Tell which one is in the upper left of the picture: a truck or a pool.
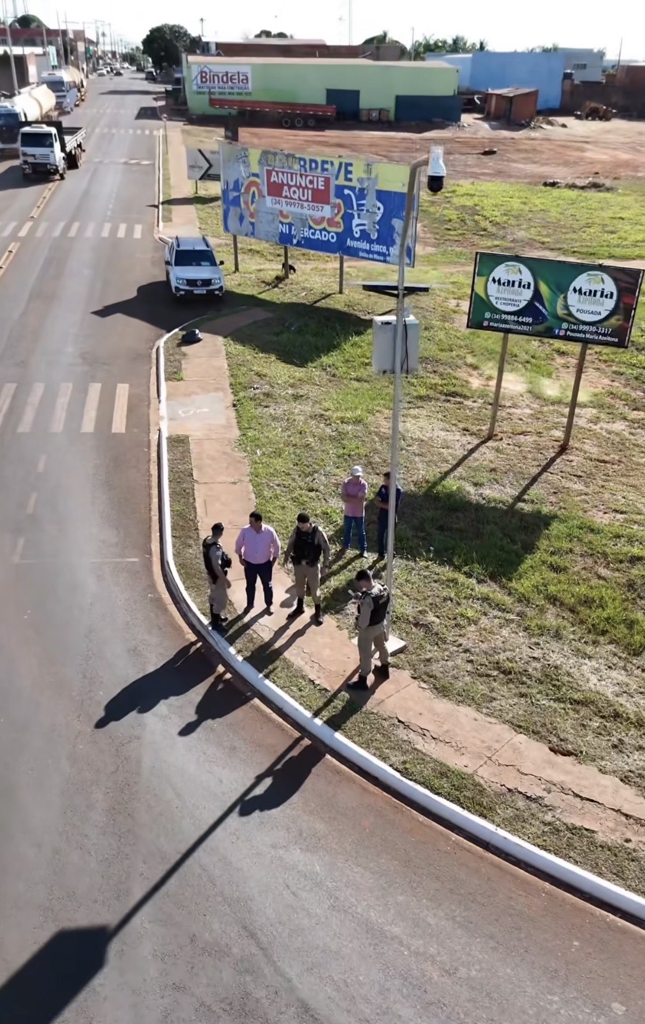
truck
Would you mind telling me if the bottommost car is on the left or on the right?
left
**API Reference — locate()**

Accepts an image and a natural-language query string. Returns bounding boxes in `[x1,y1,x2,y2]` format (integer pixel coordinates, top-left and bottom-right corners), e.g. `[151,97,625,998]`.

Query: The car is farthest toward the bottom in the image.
[157,229,226,299]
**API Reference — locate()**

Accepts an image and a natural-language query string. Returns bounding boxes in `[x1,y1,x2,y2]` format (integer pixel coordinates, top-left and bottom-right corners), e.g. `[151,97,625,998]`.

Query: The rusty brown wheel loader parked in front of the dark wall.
[558,95,628,121]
